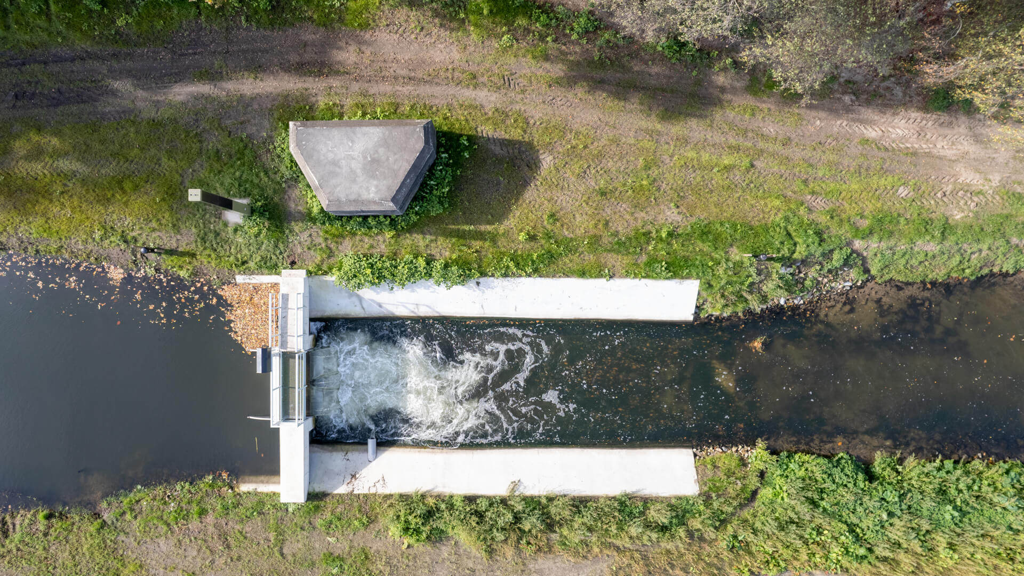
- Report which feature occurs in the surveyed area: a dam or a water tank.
dam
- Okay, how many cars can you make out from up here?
none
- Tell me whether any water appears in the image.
Yes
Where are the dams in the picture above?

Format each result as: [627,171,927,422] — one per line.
[281,270,338,502]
